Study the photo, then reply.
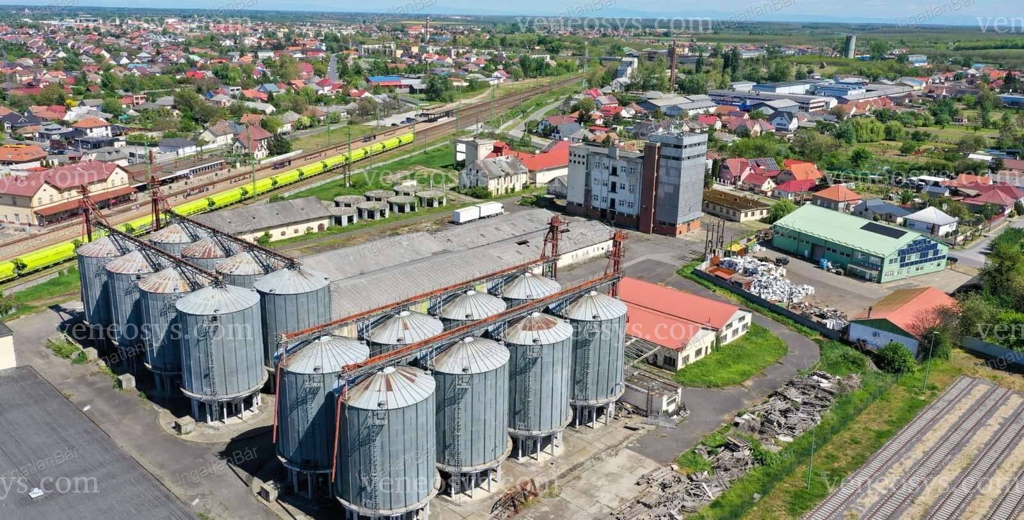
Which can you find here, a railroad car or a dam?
railroad car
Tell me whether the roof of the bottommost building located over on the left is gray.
Yes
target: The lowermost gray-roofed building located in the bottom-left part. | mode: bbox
[0,364,200,520]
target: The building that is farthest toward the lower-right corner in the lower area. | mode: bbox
[846,285,941,352]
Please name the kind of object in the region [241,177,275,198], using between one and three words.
rail car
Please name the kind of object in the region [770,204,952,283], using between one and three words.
building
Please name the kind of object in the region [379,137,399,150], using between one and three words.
rail car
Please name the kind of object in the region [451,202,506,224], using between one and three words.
truck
